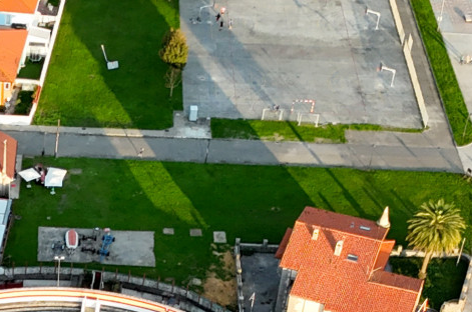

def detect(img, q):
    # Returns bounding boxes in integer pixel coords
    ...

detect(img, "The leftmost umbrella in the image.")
[16,164,45,191]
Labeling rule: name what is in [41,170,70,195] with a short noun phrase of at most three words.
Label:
umbrella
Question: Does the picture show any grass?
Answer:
Yes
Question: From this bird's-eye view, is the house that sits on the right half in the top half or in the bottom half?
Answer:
bottom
